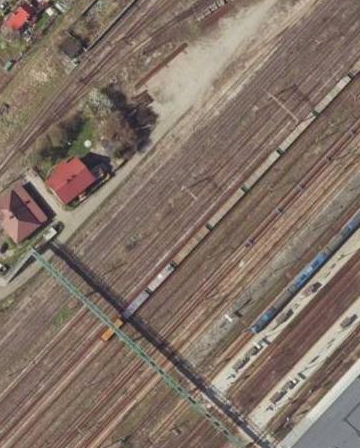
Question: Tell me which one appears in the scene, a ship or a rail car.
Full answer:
It is a rail car that can be seen here.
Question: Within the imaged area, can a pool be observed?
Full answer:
No, the picture doesn't show any pool.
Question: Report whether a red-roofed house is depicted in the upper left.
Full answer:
Yes, a red-roofed house appears in the upper left.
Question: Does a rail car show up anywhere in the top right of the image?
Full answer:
Yes, a rail car can be seen in the top right of the image.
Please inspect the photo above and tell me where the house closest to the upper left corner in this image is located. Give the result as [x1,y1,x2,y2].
[6,7,31,30]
